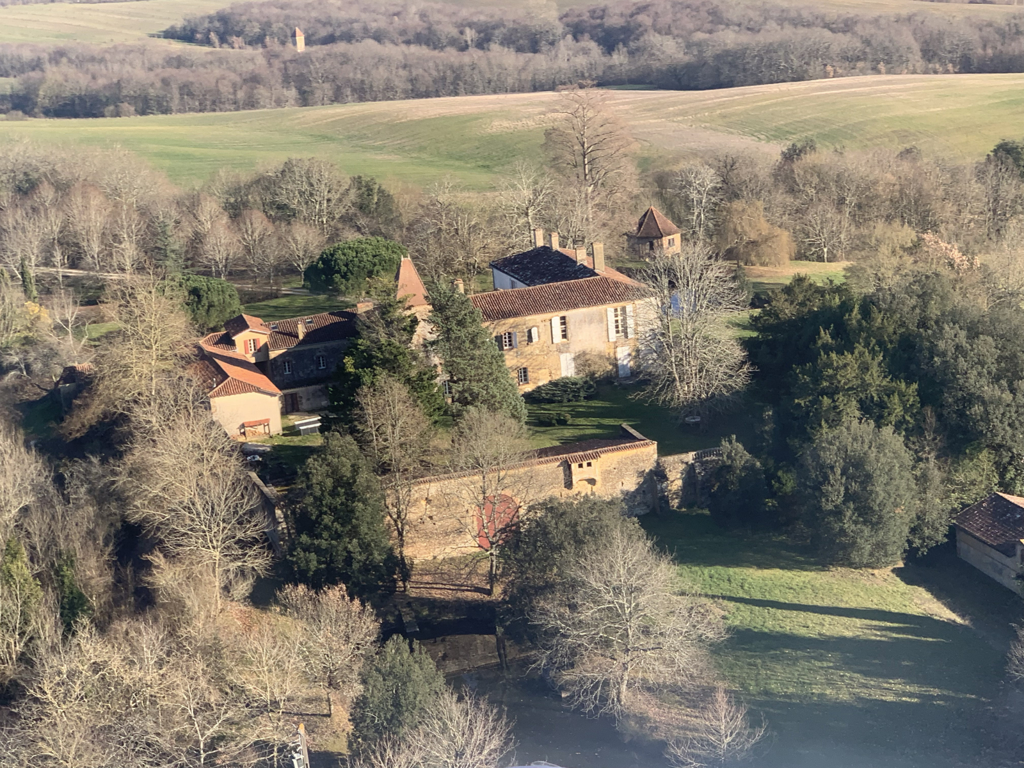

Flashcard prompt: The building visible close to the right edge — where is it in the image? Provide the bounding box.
[952,485,1024,585]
